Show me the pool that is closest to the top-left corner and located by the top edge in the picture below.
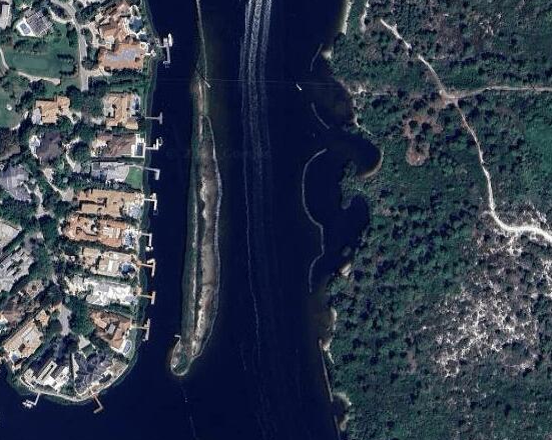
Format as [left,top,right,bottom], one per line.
[17,20,34,37]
